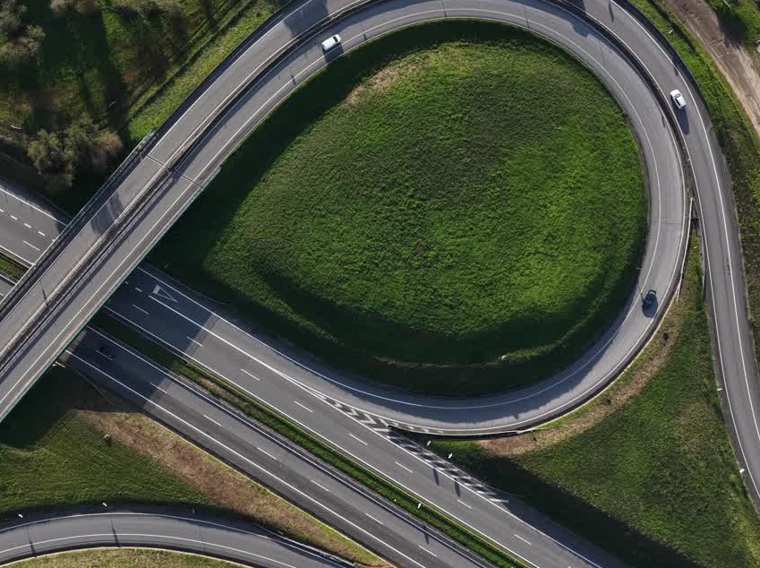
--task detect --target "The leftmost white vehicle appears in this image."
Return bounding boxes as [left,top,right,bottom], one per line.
[319,35,343,52]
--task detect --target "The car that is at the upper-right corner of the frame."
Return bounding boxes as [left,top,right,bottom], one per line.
[670,89,686,110]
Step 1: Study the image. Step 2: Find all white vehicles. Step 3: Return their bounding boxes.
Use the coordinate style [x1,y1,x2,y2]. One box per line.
[670,89,686,110]
[319,35,343,52]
